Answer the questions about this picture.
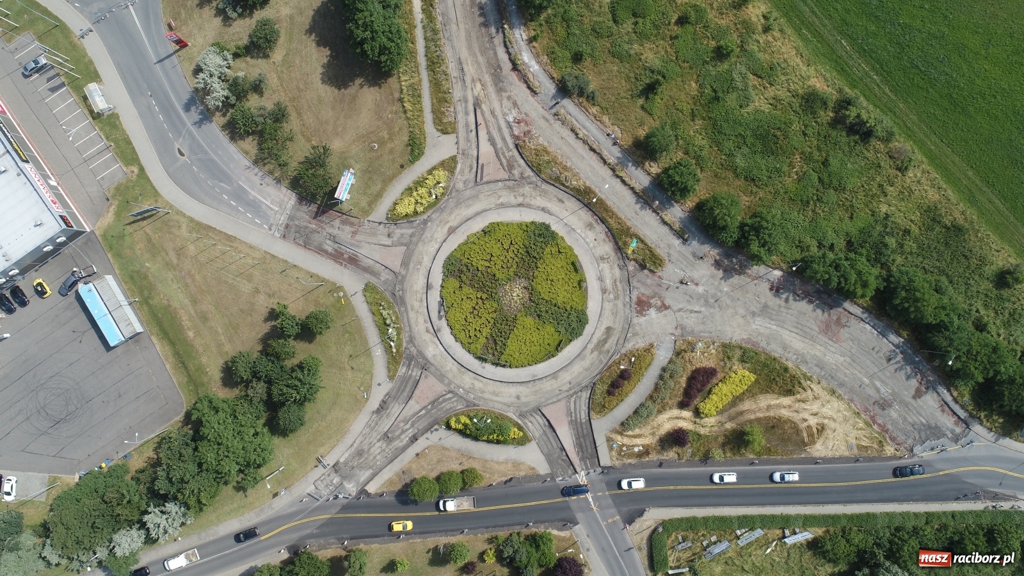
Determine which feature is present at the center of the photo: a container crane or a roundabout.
roundabout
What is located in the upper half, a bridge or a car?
car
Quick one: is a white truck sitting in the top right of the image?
No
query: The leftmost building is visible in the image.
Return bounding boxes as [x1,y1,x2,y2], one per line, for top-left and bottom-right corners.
[0,100,92,293]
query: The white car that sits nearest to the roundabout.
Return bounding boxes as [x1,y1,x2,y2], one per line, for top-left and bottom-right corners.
[620,478,644,491]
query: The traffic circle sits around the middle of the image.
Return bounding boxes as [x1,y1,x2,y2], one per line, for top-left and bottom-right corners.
[329,106,631,473]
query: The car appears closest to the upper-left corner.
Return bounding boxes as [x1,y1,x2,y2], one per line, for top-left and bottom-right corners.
[23,57,47,76]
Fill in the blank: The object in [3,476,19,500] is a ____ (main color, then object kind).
white car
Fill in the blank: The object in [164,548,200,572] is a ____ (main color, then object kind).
white truck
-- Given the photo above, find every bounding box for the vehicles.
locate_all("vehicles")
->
[3,476,19,500]
[712,472,737,483]
[390,520,413,532]
[439,498,476,513]
[164,548,200,572]
[236,525,260,541]
[620,478,644,491]
[0,290,19,313]
[23,57,47,76]
[35,277,52,298]
[562,484,588,495]
[0,472,5,494]
[894,464,922,478]
[10,284,31,307]
[60,272,79,296]
[771,471,798,483]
